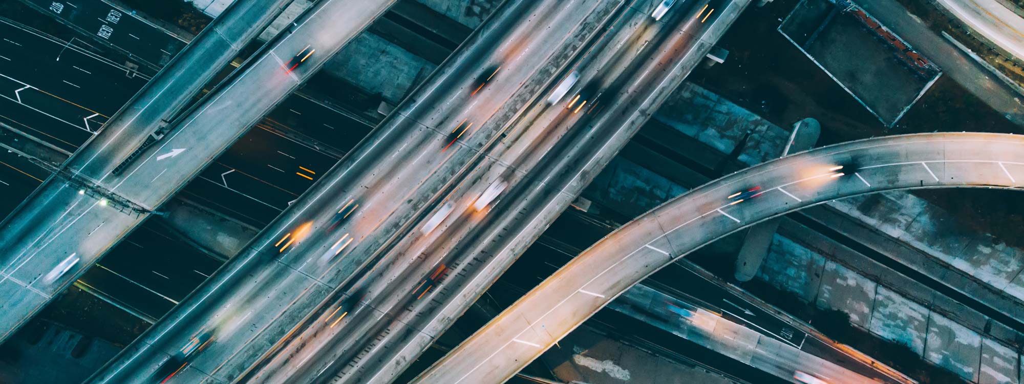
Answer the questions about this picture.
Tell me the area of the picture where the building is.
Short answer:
top right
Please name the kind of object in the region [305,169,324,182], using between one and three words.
vehicle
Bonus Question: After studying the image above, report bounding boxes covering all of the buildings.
[775,0,942,127]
